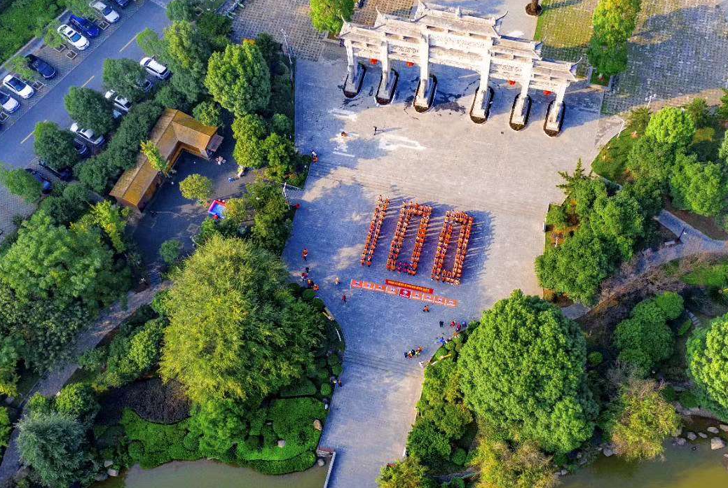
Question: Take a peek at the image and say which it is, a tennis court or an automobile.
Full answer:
I can see an automobile in this picture.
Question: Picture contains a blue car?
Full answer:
Yes, a blue car appears in the view.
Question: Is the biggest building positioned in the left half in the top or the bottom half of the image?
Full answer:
The top half of the photo is where the biggest building positioned in the left half is.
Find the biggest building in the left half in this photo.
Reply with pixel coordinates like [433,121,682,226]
[110,103,240,218]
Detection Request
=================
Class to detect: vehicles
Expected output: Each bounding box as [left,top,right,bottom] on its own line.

[106,0,134,11]
[34,160,79,183]
[63,9,105,41]
[24,165,59,197]
[0,85,27,116]
[130,72,157,95]
[65,131,95,161]
[55,20,94,52]
[135,52,173,83]
[0,70,41,103]
[88,0,125,26]
[65,119,110,151]
[102,87,134,114]
[23,50,62,82]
